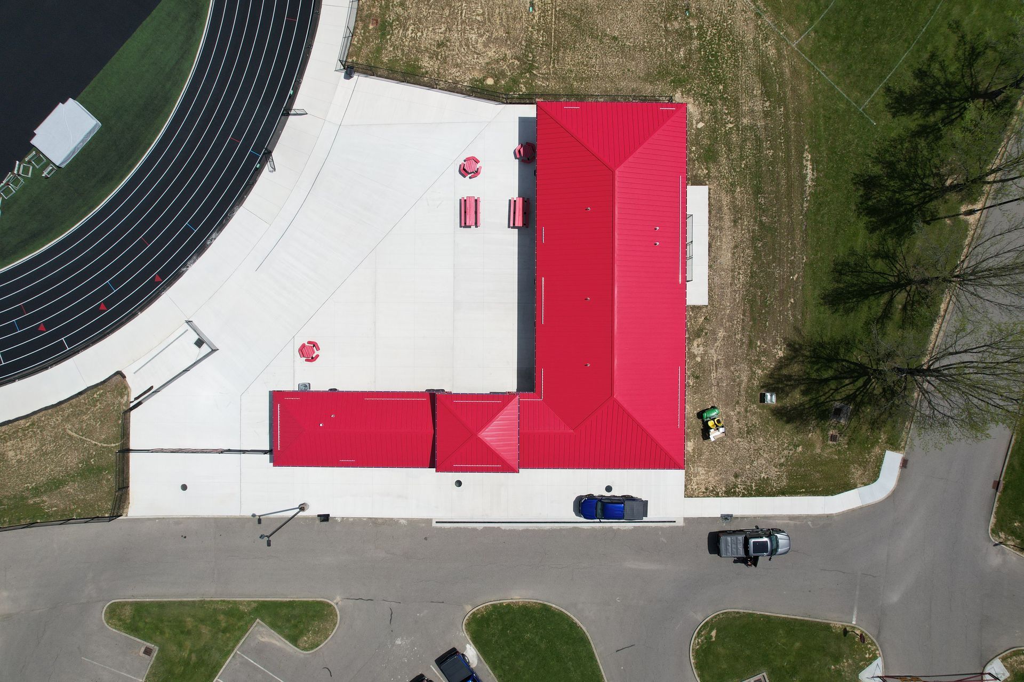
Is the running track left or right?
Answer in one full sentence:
You can find the running track on the left side of the picture.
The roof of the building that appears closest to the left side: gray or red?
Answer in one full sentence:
The roof of the building that appears closest to the left side is red.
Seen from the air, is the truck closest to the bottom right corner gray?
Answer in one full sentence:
Yes, the truck closest to the bottom right corner appears gray.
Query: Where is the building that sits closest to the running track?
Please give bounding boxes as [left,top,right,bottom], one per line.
[271,101,688,474]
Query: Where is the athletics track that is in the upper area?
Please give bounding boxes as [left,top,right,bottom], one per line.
[0,0,315,379]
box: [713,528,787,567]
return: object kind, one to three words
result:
truck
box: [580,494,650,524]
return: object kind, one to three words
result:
truck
